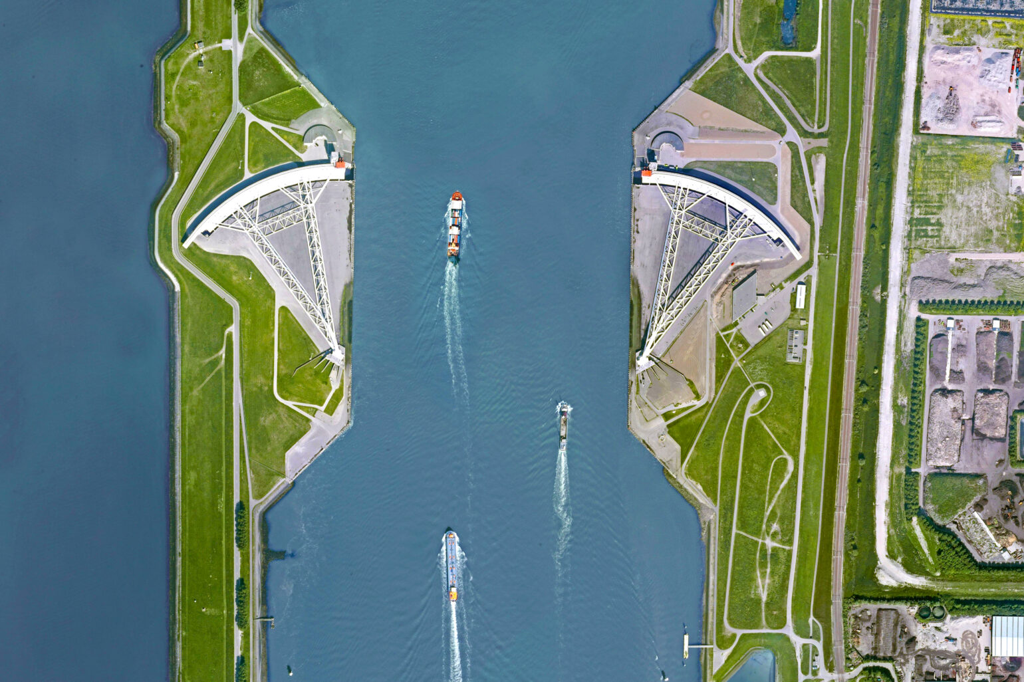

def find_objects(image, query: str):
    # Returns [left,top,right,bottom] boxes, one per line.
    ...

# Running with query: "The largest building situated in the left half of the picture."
[303,124,335,143]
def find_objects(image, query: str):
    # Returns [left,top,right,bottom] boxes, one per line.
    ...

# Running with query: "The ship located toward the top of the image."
[448,192,462,256]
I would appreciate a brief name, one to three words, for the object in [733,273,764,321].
building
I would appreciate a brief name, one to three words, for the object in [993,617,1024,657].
building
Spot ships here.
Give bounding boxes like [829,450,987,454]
[560,405,567,451]
[447,531,458,601]
[448,192,462,256]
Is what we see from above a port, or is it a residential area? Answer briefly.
port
